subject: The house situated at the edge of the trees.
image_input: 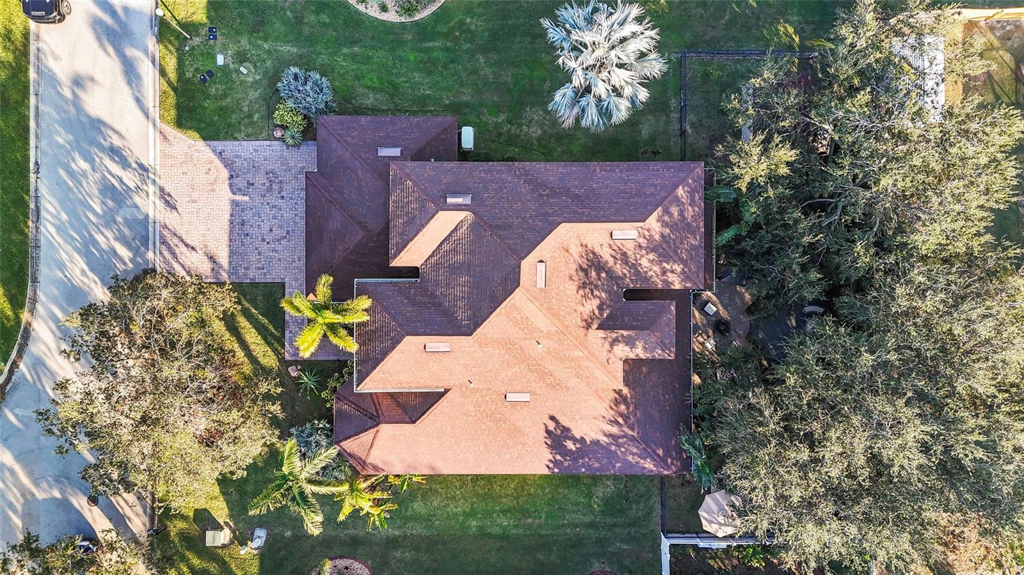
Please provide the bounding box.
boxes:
[303,114,719,477]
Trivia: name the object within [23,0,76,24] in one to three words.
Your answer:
car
